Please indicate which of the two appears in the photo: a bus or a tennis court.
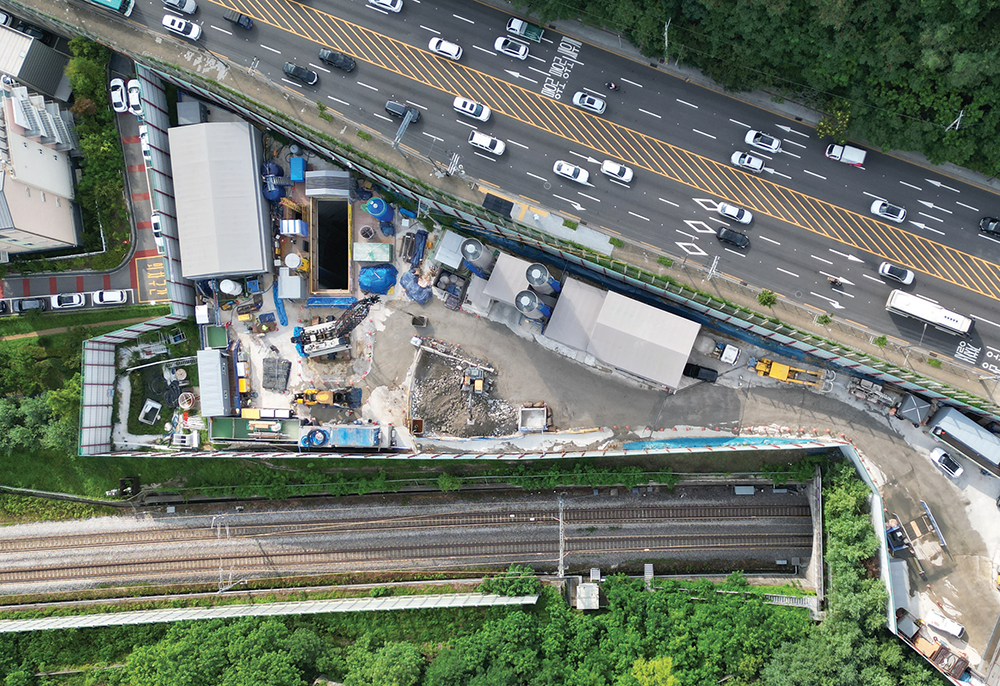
bus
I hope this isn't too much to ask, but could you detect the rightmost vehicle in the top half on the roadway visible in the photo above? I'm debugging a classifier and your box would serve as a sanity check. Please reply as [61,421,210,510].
[971,213,1000,238]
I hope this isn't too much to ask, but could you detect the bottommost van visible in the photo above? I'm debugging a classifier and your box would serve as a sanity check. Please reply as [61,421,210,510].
[917,607,960,638]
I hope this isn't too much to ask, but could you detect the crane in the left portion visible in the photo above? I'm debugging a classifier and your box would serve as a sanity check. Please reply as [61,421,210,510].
[286,287,389,368]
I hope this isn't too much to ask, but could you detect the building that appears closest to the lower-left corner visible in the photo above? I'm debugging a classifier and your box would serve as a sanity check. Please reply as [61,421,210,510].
[197,350,236,416]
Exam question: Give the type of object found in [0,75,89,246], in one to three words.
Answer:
building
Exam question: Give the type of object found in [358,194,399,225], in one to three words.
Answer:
storage tank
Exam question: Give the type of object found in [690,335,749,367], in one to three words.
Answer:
truck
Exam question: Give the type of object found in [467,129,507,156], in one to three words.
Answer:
car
